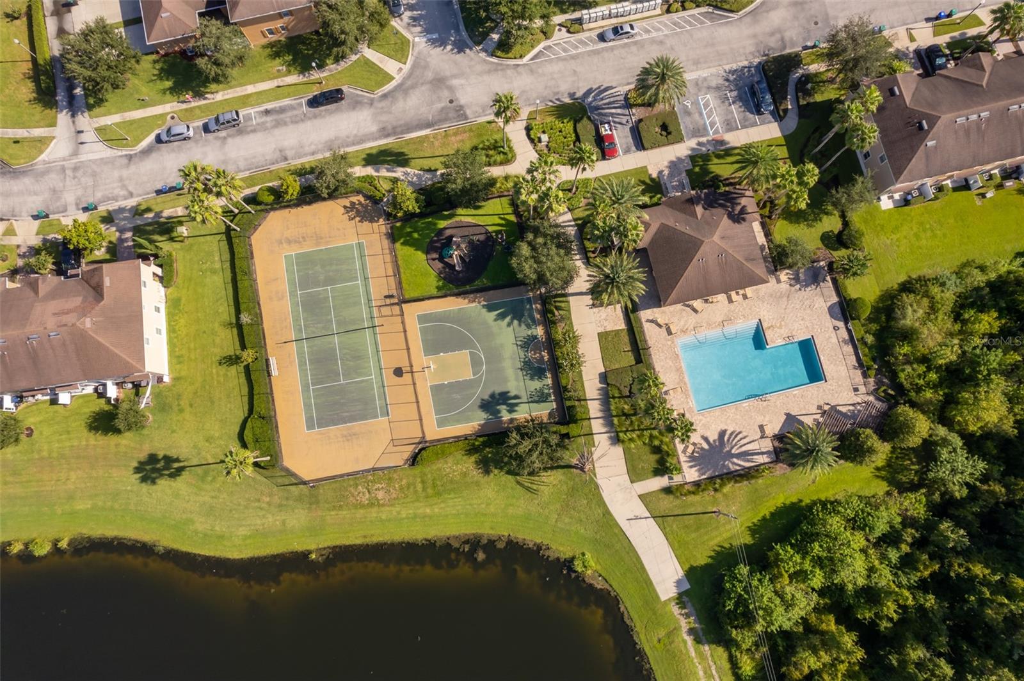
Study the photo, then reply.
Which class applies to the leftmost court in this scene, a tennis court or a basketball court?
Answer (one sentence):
The leftmost court is a tennis court.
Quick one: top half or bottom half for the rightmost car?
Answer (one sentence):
It is in the top half that the rightmost car appears.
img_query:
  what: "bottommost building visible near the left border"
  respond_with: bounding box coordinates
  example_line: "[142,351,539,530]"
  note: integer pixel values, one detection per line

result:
[0,259,165,398]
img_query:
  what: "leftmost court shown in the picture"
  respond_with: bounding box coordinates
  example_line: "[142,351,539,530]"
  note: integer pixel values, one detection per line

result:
[251,194,423,480]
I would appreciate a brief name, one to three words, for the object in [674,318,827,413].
swimming pool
